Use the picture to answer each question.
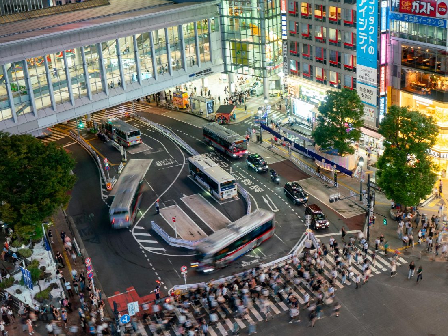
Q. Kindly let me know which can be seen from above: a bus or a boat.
bus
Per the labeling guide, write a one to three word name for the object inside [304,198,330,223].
car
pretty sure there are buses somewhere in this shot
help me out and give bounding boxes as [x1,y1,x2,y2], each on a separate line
[94,112,142,144]
[181,205,278,272]
[186,148,238,196]
[111,169,150,226]
[195,119,249,156]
